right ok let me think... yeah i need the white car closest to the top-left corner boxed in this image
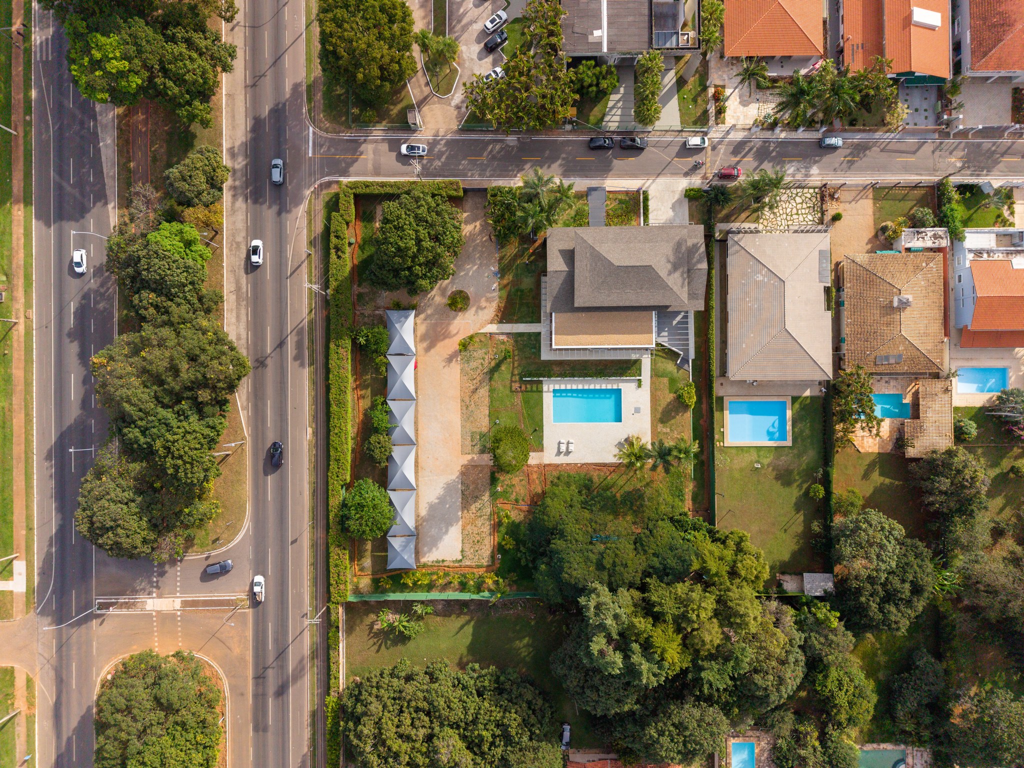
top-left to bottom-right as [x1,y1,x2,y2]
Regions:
[73,249,87,272]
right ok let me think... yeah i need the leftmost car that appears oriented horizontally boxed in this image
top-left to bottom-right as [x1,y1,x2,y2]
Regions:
[205,559,232,575]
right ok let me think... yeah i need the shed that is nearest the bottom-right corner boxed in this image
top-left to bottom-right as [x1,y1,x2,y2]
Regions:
[800,572,834,596]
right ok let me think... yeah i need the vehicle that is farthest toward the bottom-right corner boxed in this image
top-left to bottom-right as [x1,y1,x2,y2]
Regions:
[560,724,572,749]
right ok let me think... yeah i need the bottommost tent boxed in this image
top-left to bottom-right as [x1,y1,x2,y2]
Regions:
[386,535,418,569]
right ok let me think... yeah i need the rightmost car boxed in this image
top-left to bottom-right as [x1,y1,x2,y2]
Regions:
[820,136,842,149]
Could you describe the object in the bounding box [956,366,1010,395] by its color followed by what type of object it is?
blue swimming pool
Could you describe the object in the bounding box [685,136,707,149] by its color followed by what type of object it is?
white vehicle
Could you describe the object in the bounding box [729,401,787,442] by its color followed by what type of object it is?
blue swimming pool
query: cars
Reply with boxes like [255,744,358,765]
[590,136,614,149]
[483,11,509,32]
[251,242,264,264]
[271,160,284,184]
[719,166,741,178]
[402,143,427,156]
[481,66,504,86]
[820,136,842,149]
[270,441,284,465]
[205,559,232,575]
[621,136,647,150]
[73,249,87,272]
[685,136,707,149]
[560,724,572,749]
[483,31,508,52]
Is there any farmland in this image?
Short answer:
No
